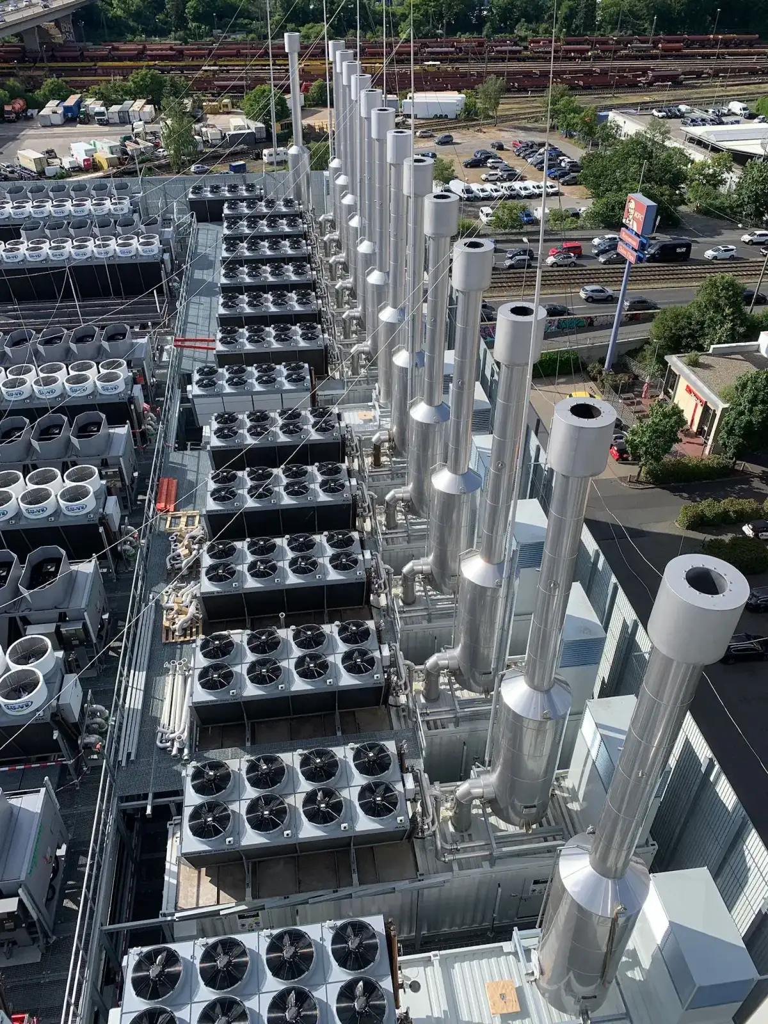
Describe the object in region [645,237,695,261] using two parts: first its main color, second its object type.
black vehicle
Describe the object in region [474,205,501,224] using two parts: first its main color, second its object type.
white vehicle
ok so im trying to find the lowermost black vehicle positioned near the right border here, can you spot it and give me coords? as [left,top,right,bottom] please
[728,628,768,663]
